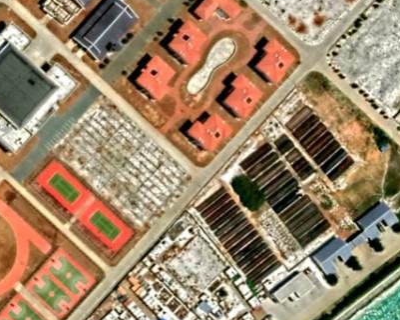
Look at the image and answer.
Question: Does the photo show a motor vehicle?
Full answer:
No, the picture doesn't show any motor vehicle.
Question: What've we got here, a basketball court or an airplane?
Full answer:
It is a basketball court that can be seen here.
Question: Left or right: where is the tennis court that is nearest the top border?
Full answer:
The tennis court that is nearest the top border sits on the left side.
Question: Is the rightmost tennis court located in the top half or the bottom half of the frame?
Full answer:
You can find the rightmost tennis court in the bottom half.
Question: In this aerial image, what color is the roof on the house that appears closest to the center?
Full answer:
From above, the roof of the house that appears closest to the center looks red.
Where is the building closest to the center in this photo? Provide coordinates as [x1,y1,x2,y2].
[187,115,236,151]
